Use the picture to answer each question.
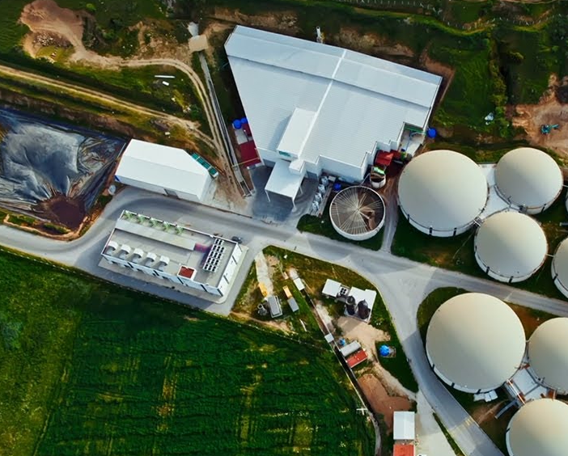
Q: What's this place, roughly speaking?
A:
industrial area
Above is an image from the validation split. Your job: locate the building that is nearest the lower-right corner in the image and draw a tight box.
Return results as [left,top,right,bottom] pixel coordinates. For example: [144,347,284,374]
[494,363,555,419]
